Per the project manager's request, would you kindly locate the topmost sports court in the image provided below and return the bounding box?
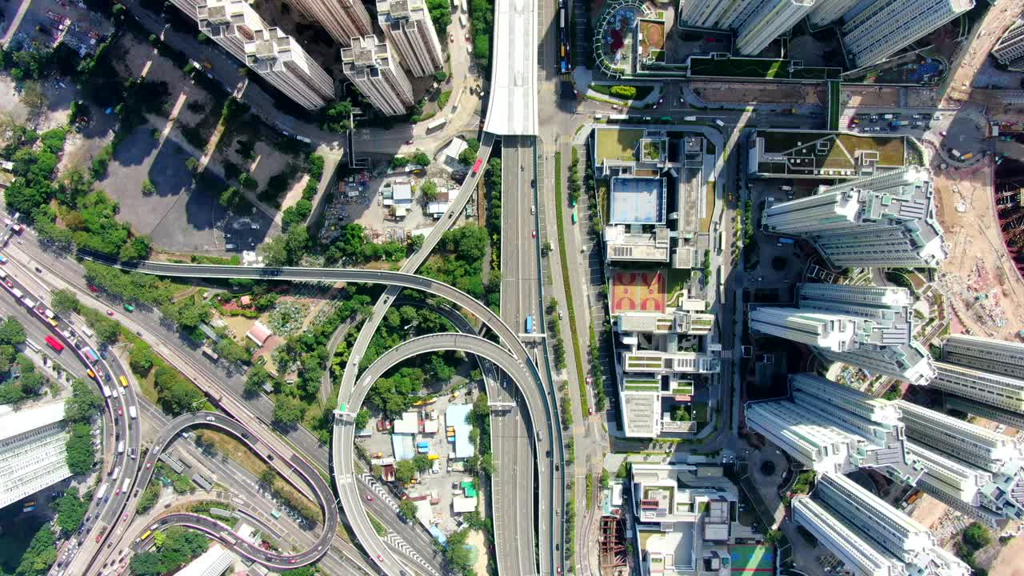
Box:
[614,178,657,223]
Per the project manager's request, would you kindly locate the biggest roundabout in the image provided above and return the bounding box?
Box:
[936,111,993,168]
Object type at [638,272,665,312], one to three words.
basketball court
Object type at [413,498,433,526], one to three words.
shed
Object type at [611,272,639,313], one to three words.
basketball court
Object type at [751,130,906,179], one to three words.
building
